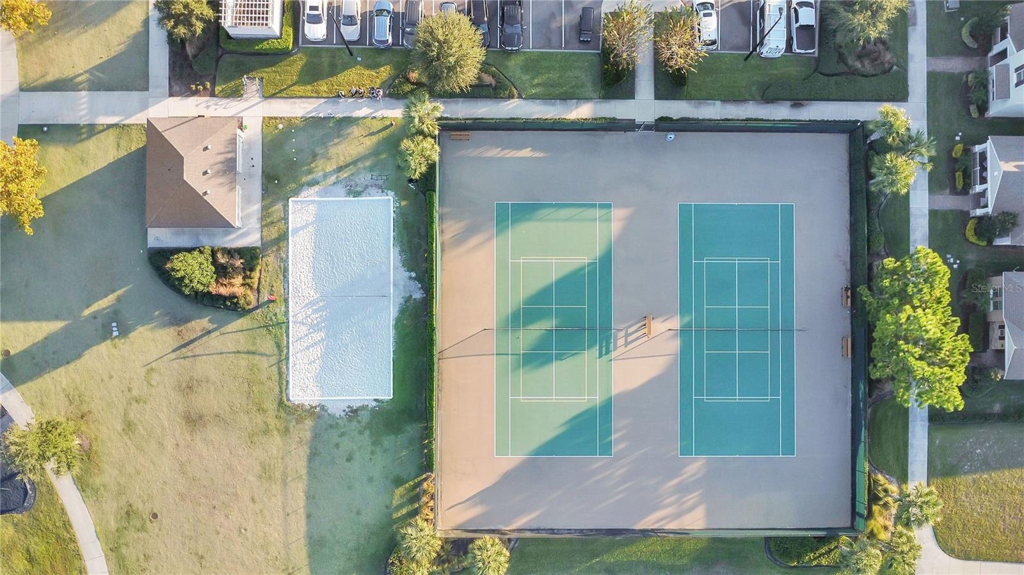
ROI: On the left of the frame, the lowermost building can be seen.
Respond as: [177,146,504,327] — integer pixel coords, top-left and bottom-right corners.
[145,115,248,229]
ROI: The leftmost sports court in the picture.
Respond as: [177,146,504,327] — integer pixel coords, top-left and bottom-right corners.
[288,196,394,402]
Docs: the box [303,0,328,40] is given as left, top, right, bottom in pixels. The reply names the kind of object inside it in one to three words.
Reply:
car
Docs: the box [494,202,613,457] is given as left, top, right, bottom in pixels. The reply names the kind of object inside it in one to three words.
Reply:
tennis court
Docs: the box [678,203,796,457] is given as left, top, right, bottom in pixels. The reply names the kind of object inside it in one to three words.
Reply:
tennis court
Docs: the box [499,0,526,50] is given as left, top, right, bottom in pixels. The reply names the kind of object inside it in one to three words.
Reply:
truck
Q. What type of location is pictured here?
sports ground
